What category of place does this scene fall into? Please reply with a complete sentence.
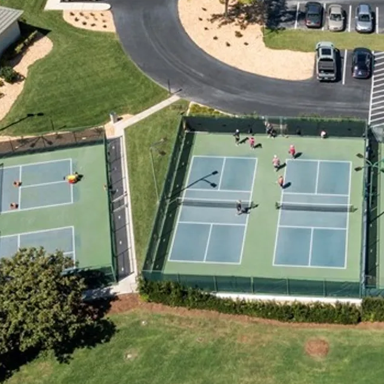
This image shows a sports ground.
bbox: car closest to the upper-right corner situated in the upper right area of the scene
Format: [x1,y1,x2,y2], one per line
[355,0,375,29]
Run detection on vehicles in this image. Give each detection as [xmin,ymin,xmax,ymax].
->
[316,42,338,79]
[355,0,375,29]
[327,1,347,29]
[352,47,373,77]
[305,0,323,27]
